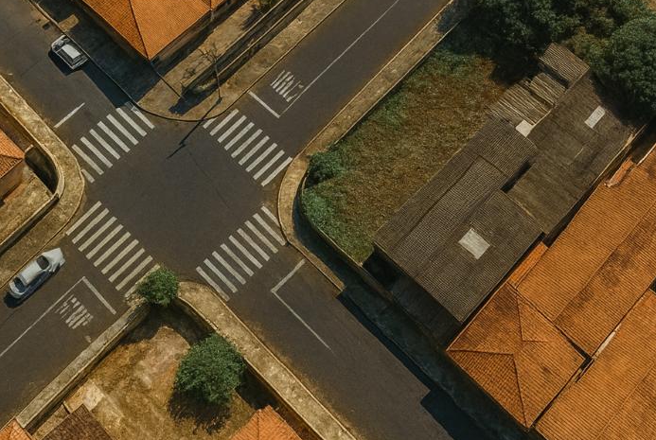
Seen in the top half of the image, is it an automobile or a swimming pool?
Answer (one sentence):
What appears in the top half of the image is an automobile.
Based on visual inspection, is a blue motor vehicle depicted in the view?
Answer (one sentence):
No, the scene contains no blue motor vehicle.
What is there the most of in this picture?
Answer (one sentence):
The scene is dominated by paved ground.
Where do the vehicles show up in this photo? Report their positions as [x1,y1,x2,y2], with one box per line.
[48,35,88,74]
[1,248,64,304]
